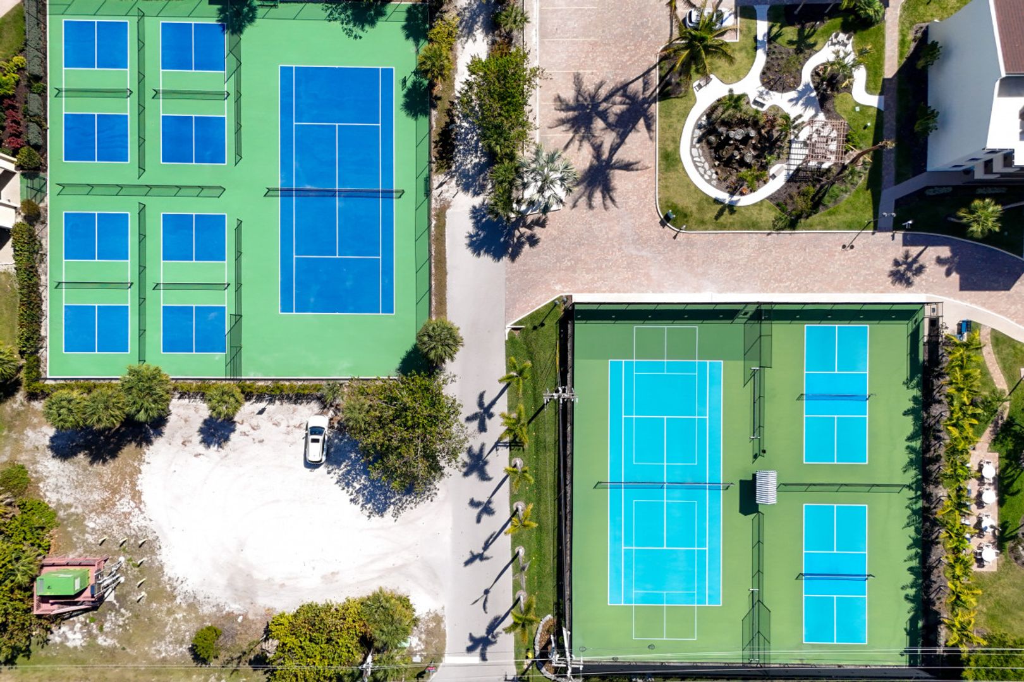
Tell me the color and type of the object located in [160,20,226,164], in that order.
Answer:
blue sports court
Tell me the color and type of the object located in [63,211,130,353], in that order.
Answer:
blue sports court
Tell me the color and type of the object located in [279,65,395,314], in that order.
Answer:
blue tennis court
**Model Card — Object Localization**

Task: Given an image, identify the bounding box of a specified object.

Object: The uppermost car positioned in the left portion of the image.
[303,414,329,465]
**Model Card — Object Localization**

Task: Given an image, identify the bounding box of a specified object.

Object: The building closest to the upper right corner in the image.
[926,0,1024,186]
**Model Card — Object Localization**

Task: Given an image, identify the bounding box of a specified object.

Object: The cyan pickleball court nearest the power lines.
[803,505,867,645]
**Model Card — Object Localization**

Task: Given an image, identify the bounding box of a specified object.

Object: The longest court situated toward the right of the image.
[608,360,723,607]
